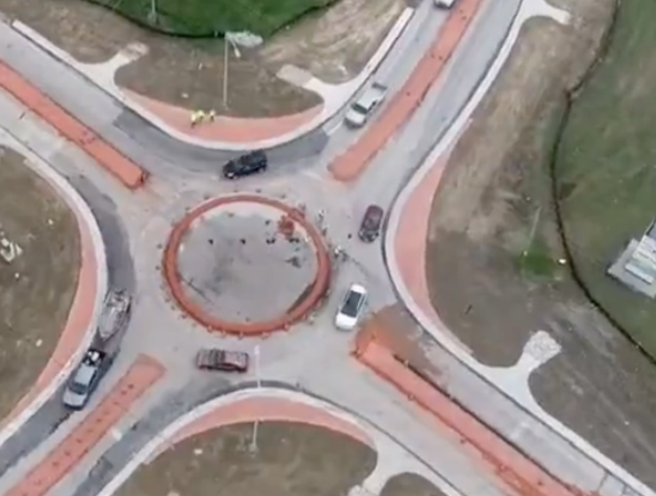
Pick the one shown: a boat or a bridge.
boat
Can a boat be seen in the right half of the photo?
No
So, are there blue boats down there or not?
No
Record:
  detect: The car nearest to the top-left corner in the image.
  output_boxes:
[222,148,268,181]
